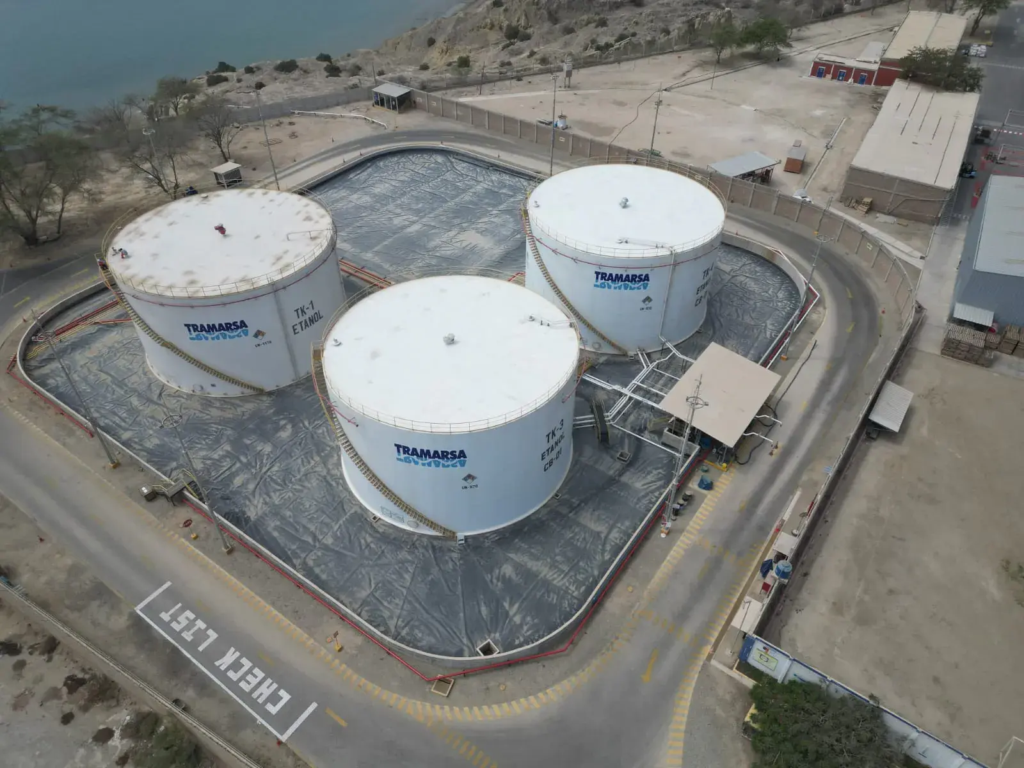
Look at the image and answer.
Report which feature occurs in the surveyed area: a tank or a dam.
tank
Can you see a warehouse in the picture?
Yes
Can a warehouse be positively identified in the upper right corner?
Yes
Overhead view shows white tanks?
Yes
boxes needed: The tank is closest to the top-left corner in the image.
[92,181,350,397]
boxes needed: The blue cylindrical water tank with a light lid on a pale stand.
[763,561,791,601]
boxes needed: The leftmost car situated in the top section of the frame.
[792,192,819,204]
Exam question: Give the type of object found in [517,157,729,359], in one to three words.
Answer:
storage tank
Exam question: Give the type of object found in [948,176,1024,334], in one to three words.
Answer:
building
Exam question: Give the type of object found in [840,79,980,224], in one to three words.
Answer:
warehouse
